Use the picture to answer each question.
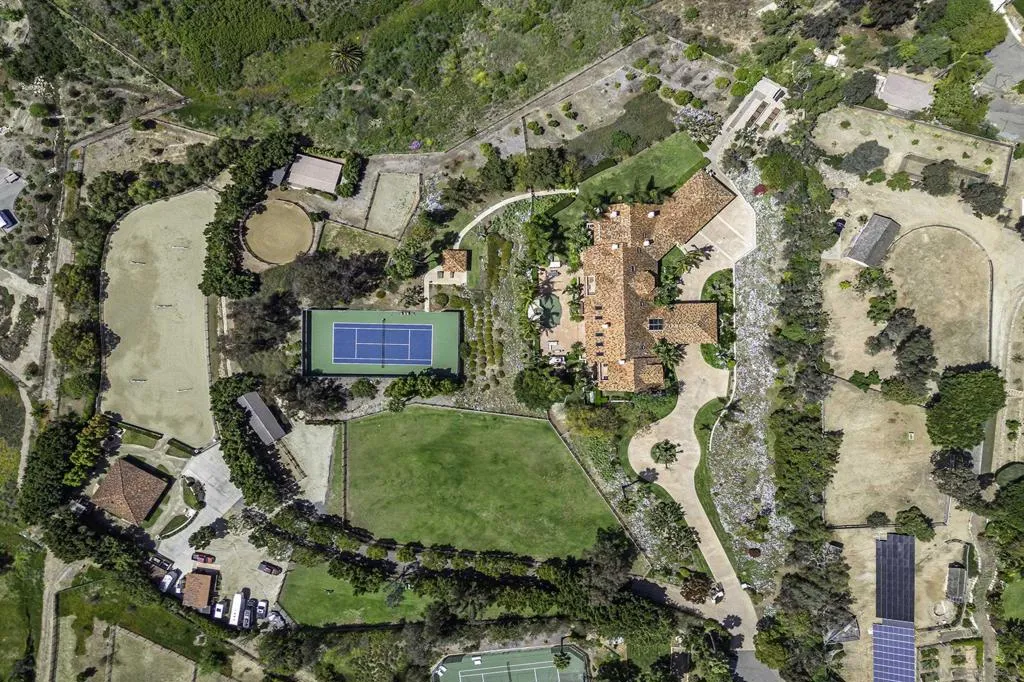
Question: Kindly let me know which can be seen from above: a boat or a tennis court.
tennis court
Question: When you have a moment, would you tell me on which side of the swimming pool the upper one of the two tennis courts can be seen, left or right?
left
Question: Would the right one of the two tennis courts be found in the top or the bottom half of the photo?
bottom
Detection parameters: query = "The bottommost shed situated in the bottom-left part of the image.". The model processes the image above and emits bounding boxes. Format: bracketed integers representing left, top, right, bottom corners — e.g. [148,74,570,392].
[183,571,214,616]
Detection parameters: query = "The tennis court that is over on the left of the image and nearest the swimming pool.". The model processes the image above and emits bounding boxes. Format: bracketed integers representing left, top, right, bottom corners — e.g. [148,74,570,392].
[303,310,461,377]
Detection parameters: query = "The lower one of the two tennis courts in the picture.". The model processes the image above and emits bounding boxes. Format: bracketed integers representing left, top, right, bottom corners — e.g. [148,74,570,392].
[431,642,593,682]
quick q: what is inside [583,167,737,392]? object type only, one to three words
house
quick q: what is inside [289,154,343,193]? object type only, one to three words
building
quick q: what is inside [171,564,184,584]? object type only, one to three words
vehicle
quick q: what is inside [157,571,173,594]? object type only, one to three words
vehicle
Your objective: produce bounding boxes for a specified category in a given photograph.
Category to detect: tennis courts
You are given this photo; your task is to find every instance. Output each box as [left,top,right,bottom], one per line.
[303,310,461,377]
[431,642,593,682]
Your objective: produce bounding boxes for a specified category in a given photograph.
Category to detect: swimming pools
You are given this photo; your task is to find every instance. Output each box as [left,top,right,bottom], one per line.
[534,293,561,329]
